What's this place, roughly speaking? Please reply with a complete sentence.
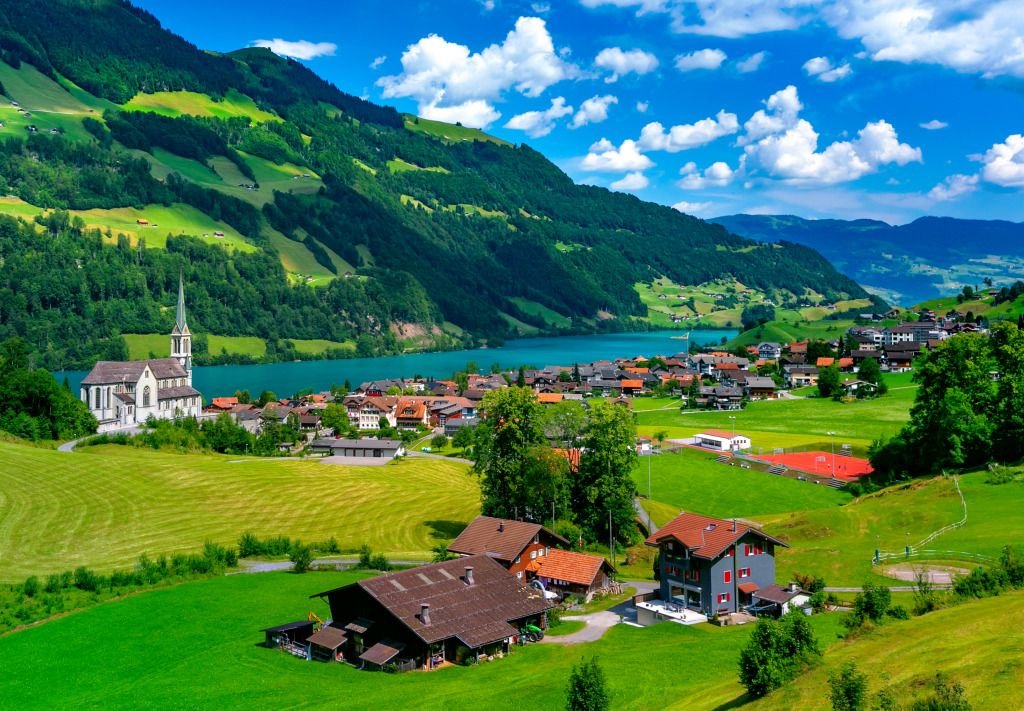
This looks like a residential area.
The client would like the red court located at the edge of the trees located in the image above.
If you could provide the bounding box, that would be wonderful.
[752,449,871,481]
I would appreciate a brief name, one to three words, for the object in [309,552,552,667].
barn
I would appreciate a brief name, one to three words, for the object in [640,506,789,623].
house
